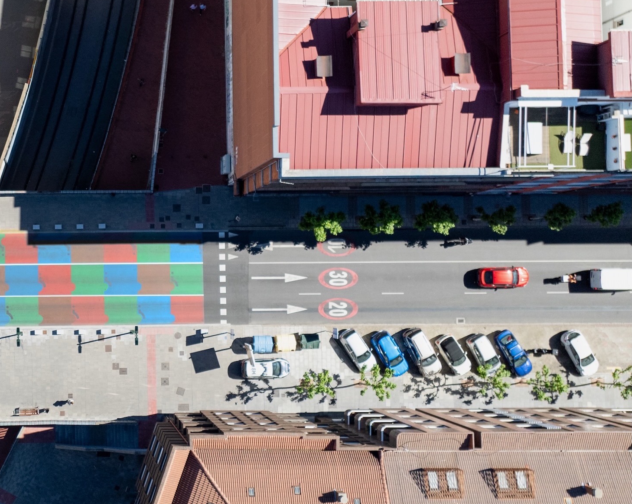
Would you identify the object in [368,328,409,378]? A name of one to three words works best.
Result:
car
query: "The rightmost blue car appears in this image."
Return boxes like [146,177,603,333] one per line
[492,326,532,378]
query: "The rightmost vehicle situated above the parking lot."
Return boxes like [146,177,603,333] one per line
[588,268,632,291]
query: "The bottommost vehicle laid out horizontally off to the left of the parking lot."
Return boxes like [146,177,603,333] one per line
[238,356,292,383]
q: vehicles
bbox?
[402,324,444,378]
[558,326,599,379]
[339,325,381,377]
[464,330,504,379]
[238,356,292,383]
[432,330,473,379]
[527,347,559,359]
[492,326,532,378]
[588,268,632,291]
[368,328,409,378]
[446,239,462,245]
[474,264,528,291]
